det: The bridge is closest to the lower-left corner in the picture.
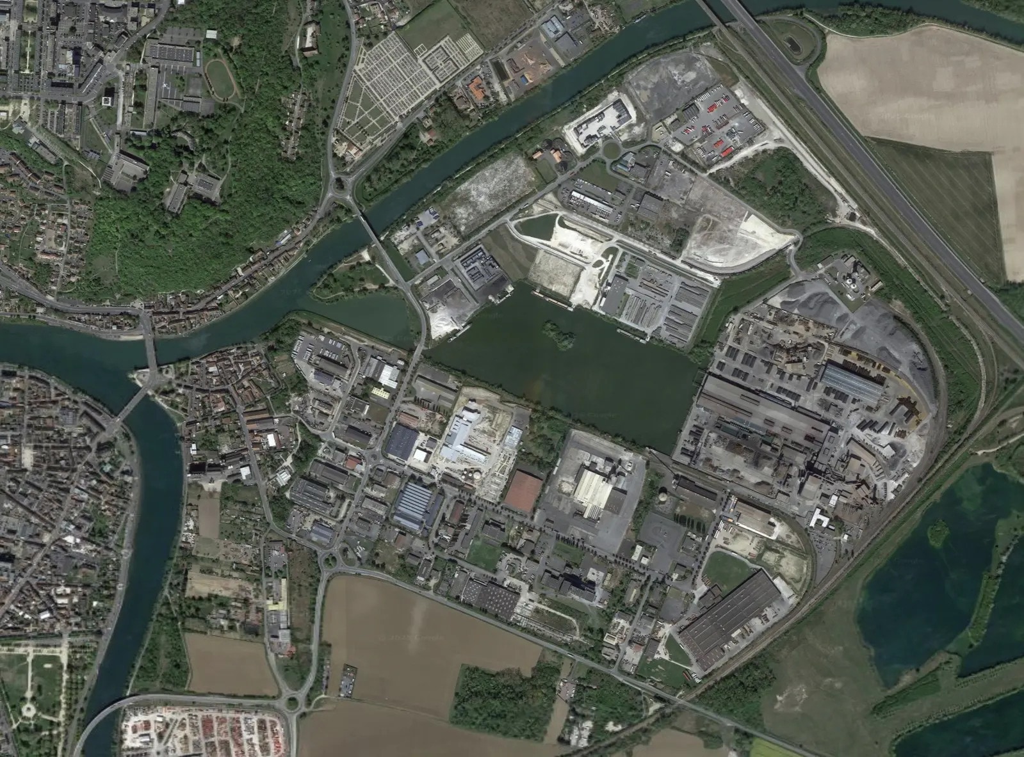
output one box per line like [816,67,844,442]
[72,693,173,757]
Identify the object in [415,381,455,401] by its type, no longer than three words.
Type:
shed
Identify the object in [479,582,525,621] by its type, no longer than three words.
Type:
building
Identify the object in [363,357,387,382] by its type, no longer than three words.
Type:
building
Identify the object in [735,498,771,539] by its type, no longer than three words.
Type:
shed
